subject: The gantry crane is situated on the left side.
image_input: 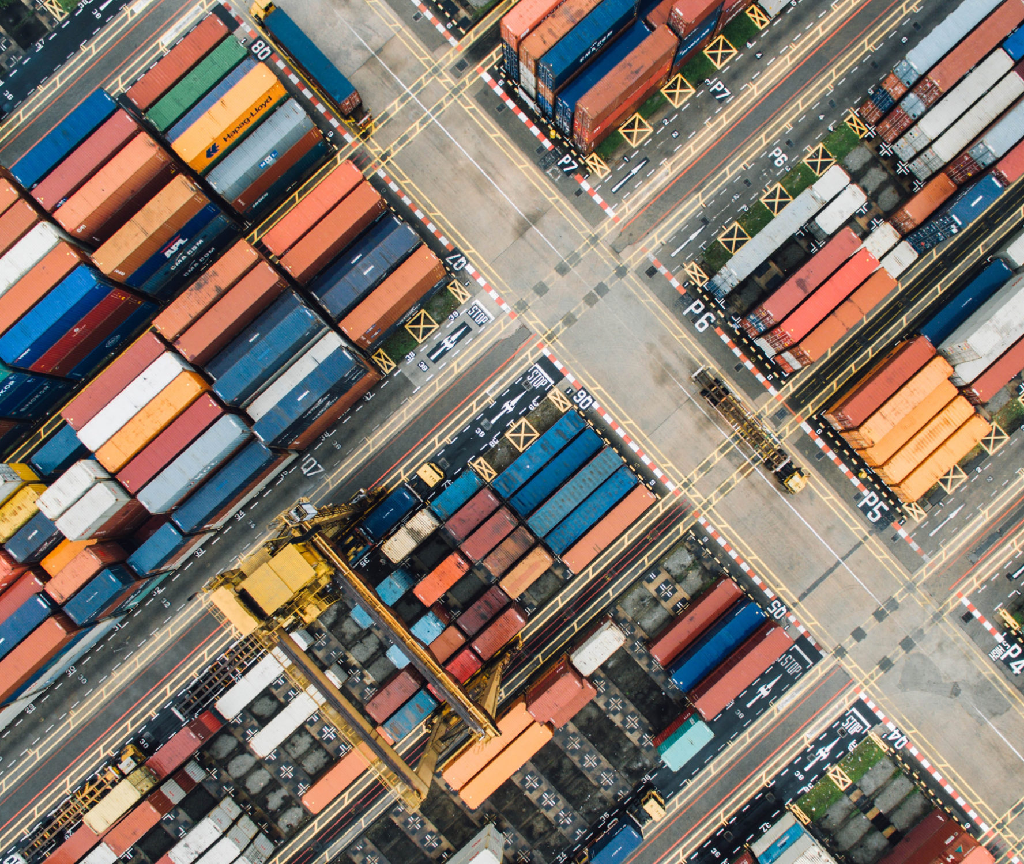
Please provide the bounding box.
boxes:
[194,480,531,806]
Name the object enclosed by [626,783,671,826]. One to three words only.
truck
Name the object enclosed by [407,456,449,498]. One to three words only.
truck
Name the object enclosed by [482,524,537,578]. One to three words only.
shipping container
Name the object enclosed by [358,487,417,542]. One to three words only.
shipping container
